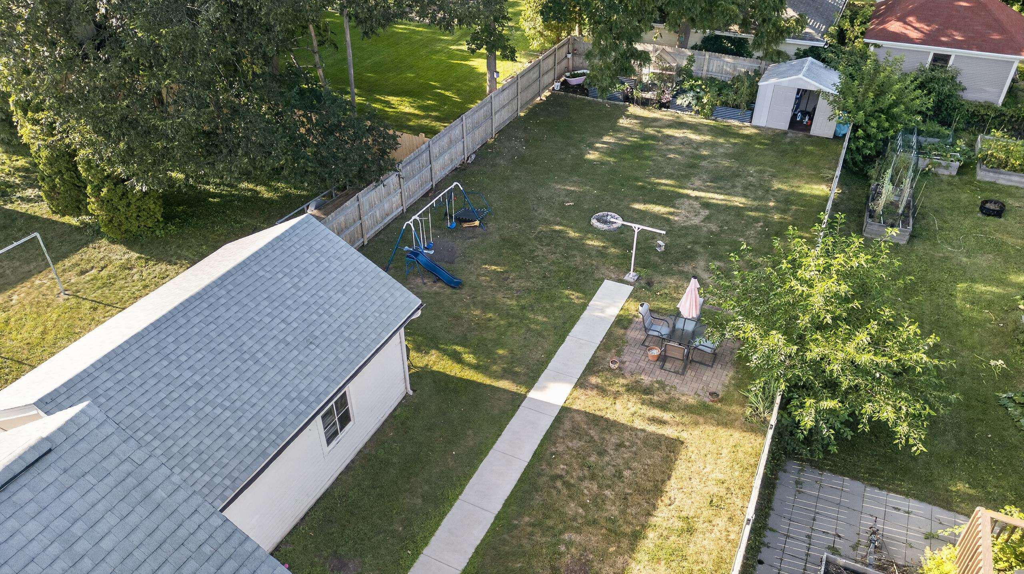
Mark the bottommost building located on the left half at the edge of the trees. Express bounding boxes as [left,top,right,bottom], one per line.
[0,216,438,574]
